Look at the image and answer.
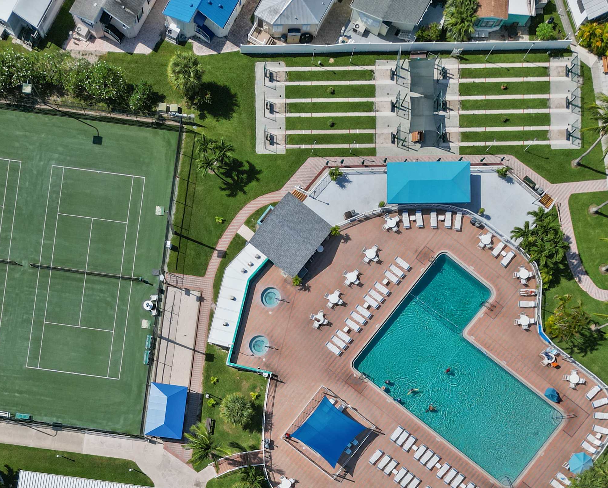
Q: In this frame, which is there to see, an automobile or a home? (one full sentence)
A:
I can see a home in this picture.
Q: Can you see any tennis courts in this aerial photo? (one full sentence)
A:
Yes, a tennis court is visible in the scene.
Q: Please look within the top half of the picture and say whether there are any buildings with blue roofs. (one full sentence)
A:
Yes, a building with a blue roof can be seen within the top half of the picture.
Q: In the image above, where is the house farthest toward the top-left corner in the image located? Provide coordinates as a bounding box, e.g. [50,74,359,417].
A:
[0,0,64,39]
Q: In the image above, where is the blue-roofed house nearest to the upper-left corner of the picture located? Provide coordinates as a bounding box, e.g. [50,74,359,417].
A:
[162,0,243,39]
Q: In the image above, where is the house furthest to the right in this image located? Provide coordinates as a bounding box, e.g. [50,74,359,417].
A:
[555,0,608,39]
